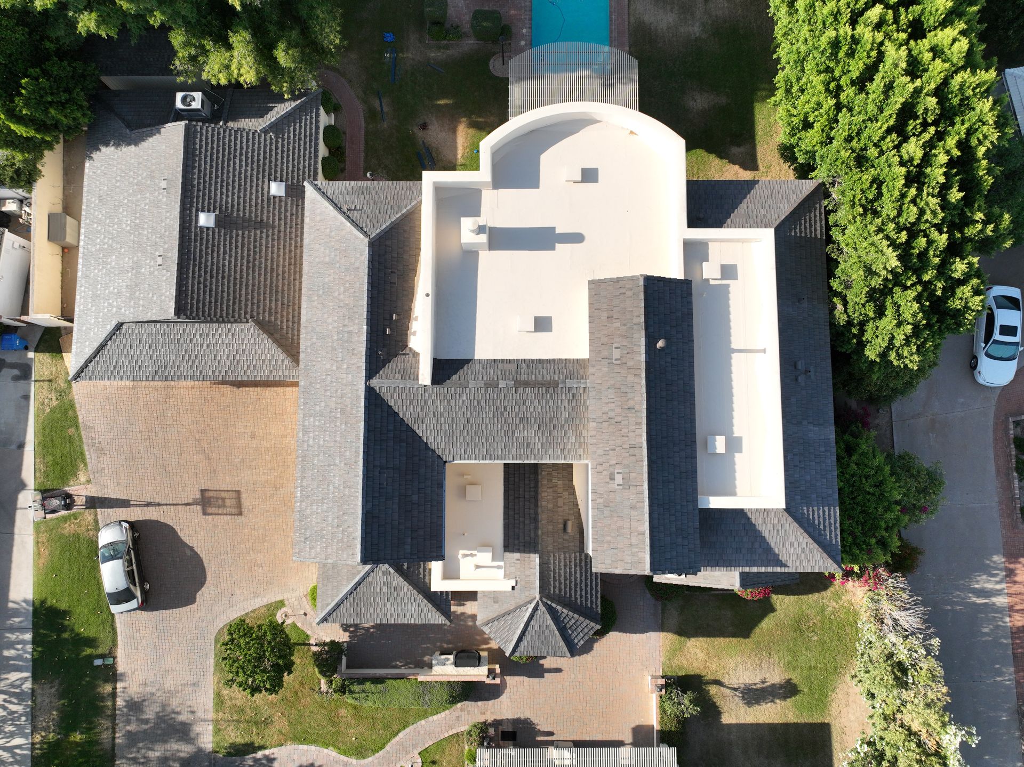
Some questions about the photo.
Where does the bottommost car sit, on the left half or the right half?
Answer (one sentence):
You can find the bottommost car on the left side of the picture.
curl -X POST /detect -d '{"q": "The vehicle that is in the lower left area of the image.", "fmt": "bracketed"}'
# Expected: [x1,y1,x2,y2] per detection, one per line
[95,519,153,616]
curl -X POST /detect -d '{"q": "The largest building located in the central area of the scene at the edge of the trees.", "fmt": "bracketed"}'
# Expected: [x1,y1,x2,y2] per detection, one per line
[292,103,844,658]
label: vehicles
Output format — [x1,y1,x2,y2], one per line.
[95,519,153,616]
[969,288,1023,385]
